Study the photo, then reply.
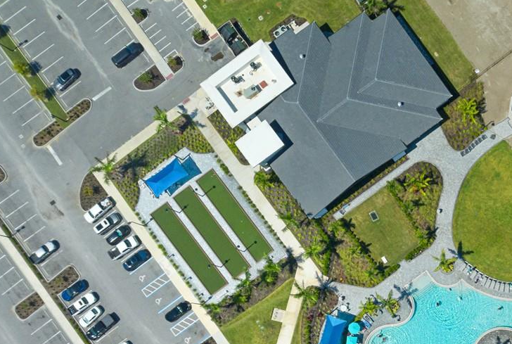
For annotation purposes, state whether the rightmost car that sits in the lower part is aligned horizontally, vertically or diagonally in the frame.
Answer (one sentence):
The rightmost car that sits in the lower part runs diagonally in the image.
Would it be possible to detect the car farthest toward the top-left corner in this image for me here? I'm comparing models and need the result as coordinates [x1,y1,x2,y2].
[54,68,81,90]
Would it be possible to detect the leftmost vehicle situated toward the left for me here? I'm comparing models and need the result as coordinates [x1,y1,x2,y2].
[32,241,58,263]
